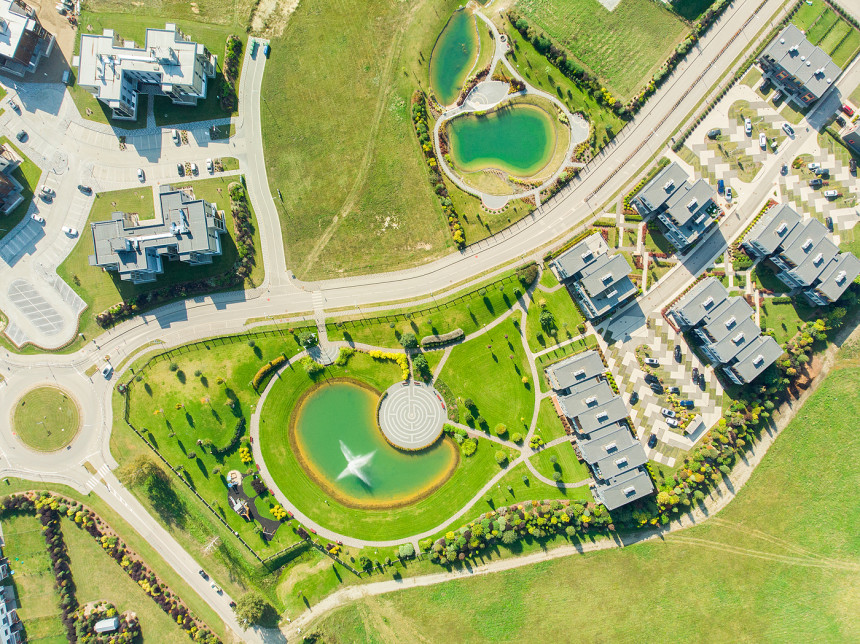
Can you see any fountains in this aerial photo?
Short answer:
Yes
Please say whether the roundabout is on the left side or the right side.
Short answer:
left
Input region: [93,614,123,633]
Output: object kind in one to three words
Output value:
shed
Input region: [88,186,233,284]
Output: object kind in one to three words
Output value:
building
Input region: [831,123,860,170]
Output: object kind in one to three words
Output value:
house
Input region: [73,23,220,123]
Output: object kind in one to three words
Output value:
building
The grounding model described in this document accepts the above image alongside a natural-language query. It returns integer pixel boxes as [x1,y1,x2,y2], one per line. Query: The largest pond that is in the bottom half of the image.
[292,380,459,507]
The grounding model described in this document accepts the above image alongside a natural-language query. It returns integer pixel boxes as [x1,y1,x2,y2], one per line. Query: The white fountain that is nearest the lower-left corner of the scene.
[336,440,377,487]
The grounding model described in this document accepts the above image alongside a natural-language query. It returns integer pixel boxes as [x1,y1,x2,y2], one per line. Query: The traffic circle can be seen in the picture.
[0,364,103,474]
